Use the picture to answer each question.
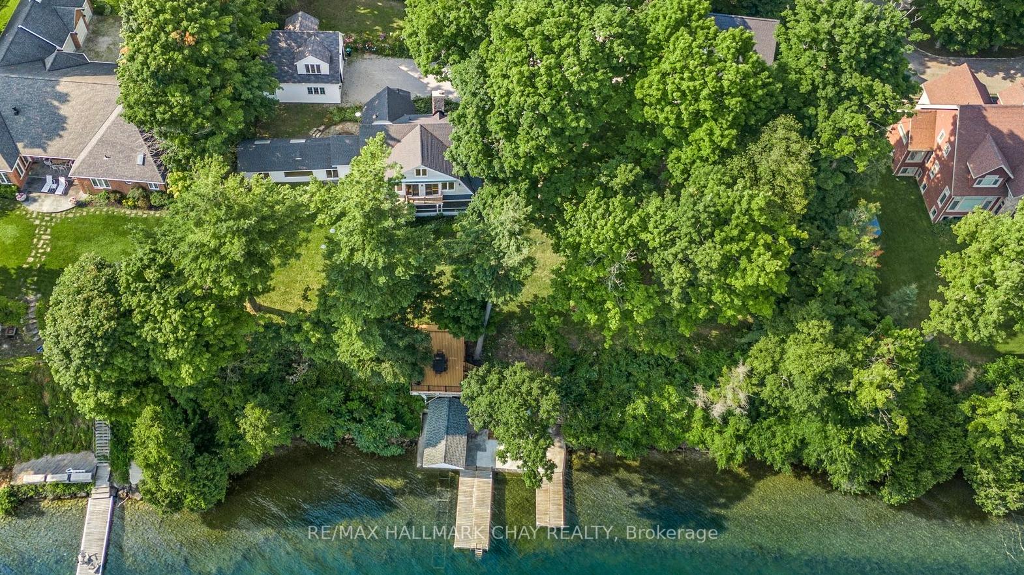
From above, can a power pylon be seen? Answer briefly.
No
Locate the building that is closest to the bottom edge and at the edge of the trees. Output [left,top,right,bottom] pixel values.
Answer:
[423,399,468,470]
